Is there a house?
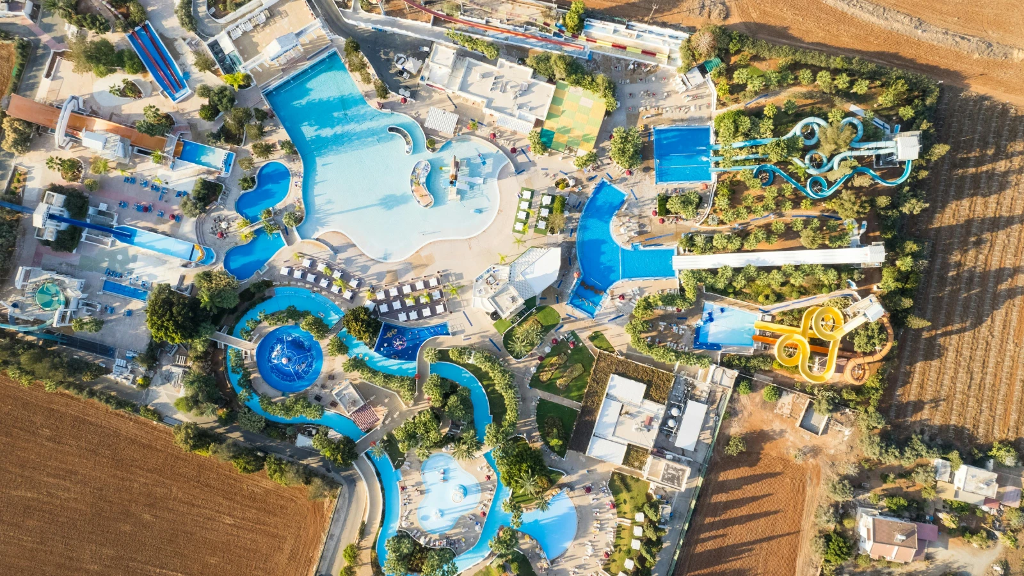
Yes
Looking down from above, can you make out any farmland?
Yes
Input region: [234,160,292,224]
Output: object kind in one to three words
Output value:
swimming pool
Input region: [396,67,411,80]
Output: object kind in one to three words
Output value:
vehicle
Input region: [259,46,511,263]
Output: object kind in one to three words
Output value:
swimming pool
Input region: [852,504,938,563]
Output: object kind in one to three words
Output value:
house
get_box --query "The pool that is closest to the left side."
[43,328,119,360]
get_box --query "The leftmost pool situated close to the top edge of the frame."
[127,22,188,101]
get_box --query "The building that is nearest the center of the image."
[473,264,529,323]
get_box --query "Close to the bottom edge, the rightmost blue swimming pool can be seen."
[505,488,578,561]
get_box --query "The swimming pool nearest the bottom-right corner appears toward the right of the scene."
[693,300,759,351]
